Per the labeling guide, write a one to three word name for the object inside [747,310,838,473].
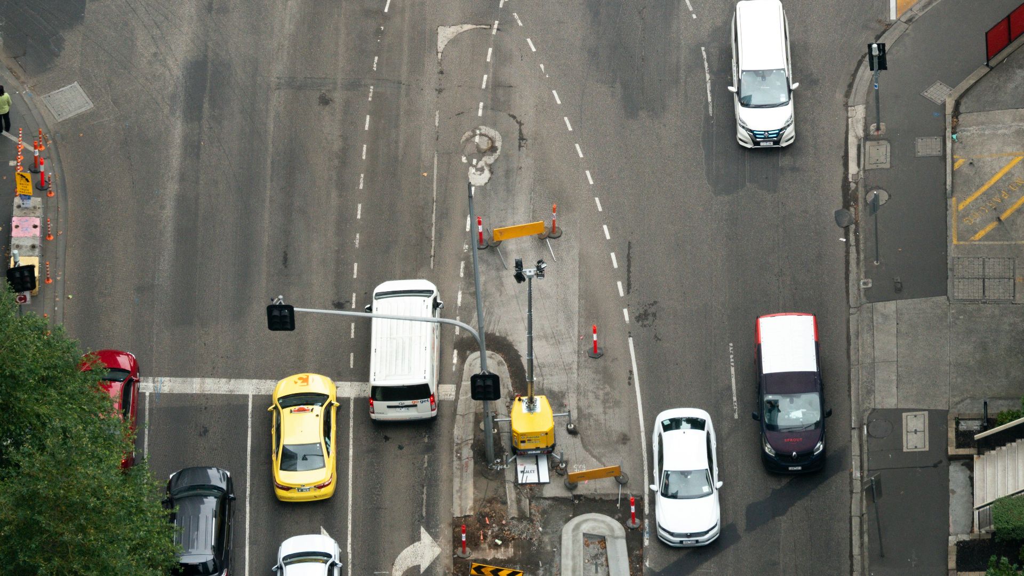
van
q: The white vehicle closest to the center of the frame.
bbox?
[362,279,451,420]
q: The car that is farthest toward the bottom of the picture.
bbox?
[266,535,346,576]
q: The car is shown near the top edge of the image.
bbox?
[727,1,801,148]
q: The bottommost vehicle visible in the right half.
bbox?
[645,408,727,547]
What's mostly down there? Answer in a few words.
paved ground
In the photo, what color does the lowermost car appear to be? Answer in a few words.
white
